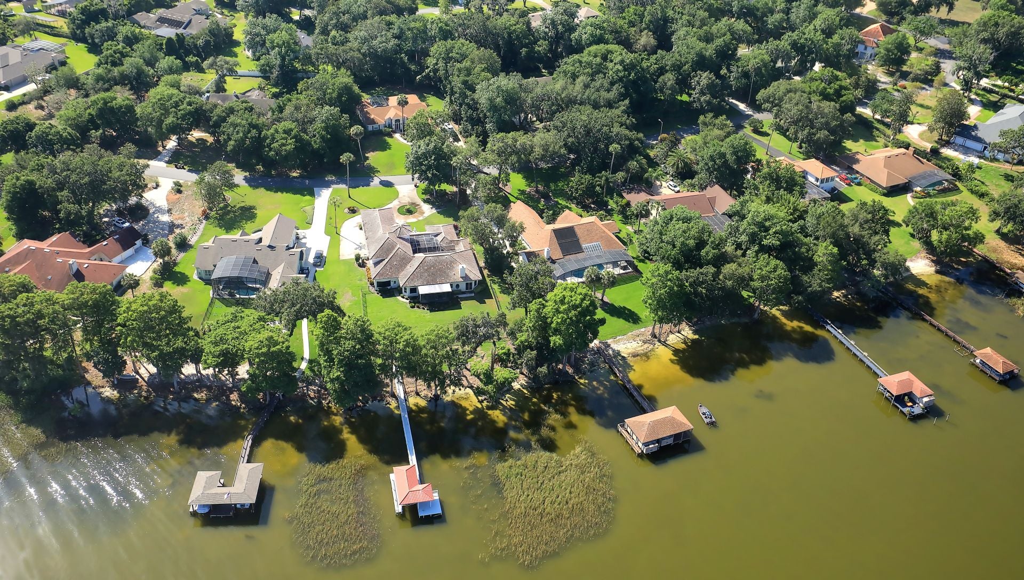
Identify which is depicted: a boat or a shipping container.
boat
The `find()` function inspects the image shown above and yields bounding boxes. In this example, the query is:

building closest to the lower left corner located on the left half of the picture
[188,462,264,520]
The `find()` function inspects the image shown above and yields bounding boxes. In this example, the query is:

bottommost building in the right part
[614,405,694,458]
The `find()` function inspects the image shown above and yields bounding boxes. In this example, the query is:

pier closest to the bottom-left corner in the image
[227,393,285,487]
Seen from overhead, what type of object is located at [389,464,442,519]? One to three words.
building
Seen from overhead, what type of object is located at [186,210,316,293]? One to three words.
house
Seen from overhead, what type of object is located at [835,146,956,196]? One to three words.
house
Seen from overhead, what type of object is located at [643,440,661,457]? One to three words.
boat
